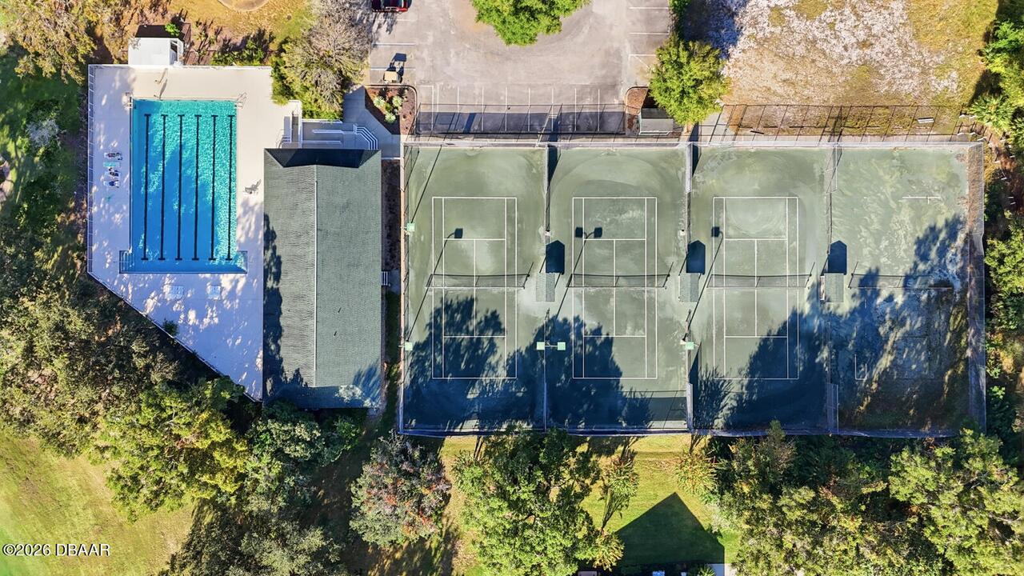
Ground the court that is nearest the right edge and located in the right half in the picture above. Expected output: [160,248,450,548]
[830,146,969,430]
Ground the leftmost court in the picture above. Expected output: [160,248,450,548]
[406,146,547,430]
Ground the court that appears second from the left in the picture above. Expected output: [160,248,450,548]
[547,146,688,430]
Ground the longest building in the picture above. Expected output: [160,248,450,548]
[266,149,382,409]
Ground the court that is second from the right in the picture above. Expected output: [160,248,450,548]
[688,146,830,430]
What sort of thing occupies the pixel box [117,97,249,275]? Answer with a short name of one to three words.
swimming pool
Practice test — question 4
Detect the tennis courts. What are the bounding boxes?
[830,146,969,430]
[406,146,547,430]
[688,146,830,430]
[547,146,688,430]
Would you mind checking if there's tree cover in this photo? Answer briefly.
Yes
